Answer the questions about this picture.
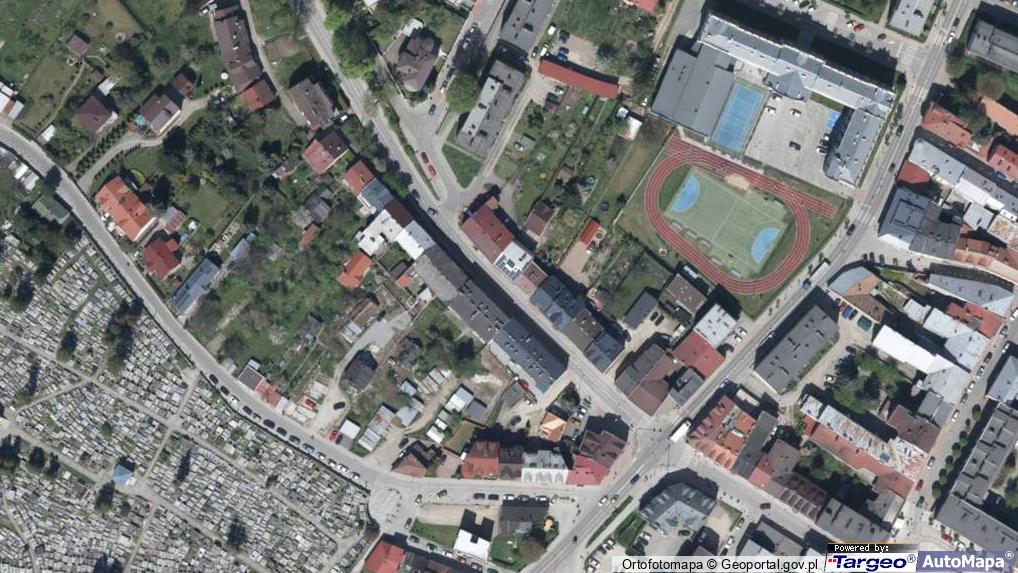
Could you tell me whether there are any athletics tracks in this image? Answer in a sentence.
Yes, this view includes an athletics track.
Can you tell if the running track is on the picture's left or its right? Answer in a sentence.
The running track sits on the right side.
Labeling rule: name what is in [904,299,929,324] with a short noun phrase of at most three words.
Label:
shed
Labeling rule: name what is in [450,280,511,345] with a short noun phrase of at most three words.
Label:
house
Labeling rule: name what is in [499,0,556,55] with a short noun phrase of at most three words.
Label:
building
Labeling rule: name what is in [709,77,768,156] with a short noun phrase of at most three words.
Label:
sports court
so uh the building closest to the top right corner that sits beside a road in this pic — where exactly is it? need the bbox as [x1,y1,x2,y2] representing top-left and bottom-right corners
[963,21,1018,79]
